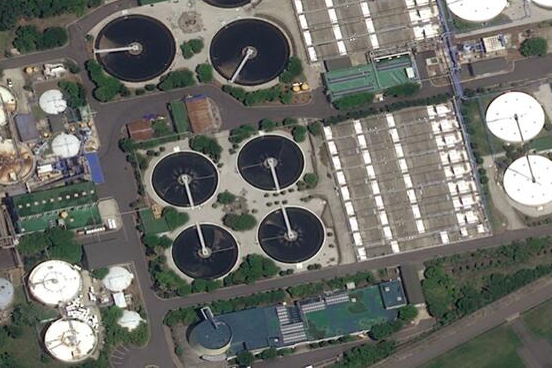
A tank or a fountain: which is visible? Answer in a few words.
tank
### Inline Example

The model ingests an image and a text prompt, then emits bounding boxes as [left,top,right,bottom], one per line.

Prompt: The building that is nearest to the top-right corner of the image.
[484,34,505,57]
